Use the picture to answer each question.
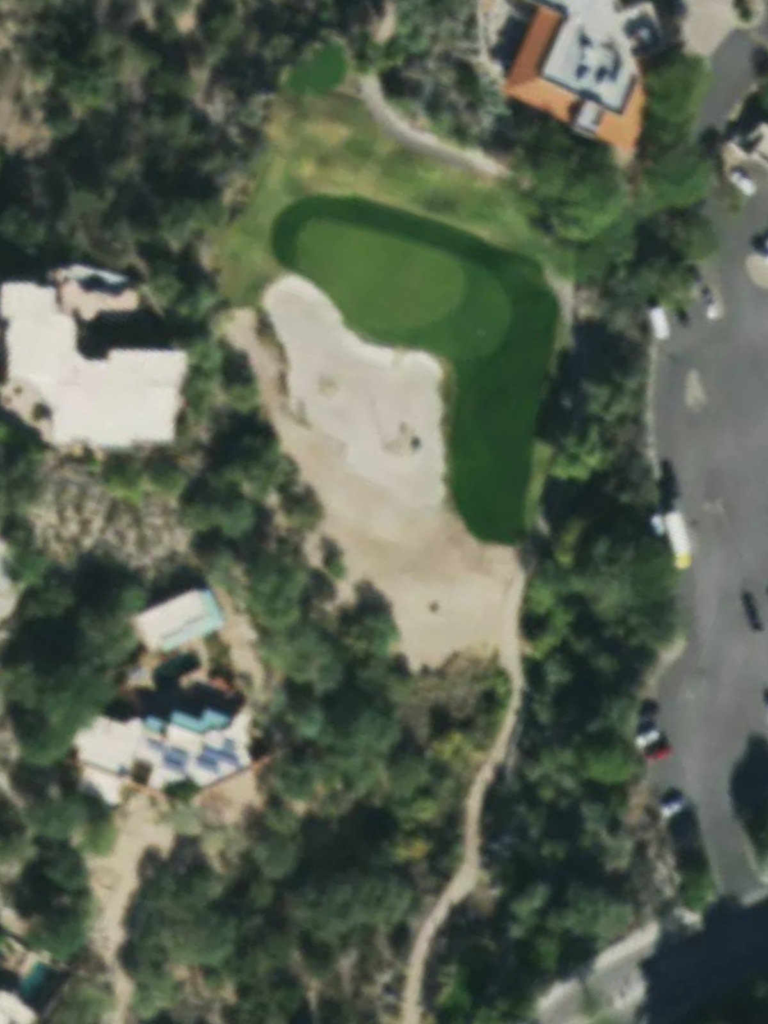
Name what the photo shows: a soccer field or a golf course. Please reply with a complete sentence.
Visible in the photo is a golf course.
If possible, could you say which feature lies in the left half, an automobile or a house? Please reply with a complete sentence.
There is a house in the left half.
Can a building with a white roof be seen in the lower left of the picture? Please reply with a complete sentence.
Yes, a building with a white roof can be seen in the lower left of the picture.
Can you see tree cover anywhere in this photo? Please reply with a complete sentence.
Yes, tree cover can be seen from above here.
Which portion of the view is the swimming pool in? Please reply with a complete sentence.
The swimming pool sits in the bottom left section of the image.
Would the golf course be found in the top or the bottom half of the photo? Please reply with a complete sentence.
You can find the golf course in the top half.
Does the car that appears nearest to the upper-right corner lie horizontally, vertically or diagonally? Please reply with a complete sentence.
In this picture, the car that appears nearest to the upper-right corner is oriented diagonally.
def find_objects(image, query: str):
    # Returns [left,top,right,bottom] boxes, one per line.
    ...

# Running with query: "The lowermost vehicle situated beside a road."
[659,797,686,818]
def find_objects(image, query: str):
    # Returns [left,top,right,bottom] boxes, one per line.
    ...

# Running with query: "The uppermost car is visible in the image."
[729,169,757,196]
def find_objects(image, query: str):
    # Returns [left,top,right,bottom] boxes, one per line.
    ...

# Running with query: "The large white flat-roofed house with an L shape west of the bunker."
[1,283,187,444]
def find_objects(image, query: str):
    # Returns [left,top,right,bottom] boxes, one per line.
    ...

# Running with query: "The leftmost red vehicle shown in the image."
[644,743,673,764]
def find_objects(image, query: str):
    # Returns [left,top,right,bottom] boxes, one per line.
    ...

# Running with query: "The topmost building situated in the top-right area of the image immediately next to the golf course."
[506,0,646,147]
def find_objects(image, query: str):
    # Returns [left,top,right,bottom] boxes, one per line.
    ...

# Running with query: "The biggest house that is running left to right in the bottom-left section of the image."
[75,707,254,805]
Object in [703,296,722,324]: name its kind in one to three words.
car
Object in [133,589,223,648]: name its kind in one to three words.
shed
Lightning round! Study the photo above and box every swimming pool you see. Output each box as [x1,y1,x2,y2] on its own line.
[18,959,72,1021]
